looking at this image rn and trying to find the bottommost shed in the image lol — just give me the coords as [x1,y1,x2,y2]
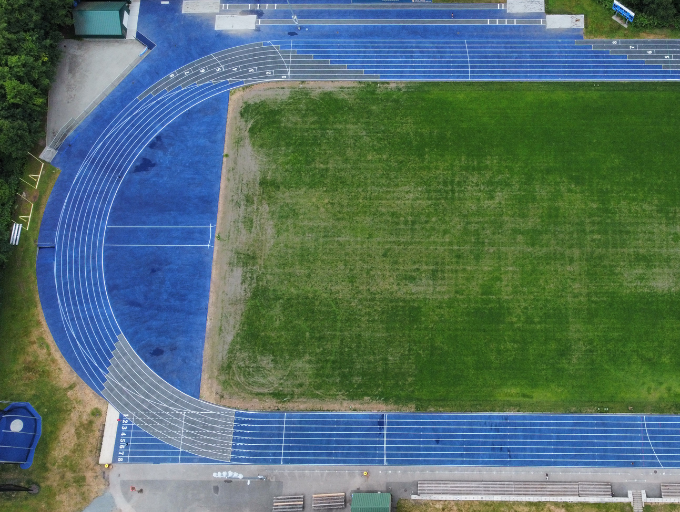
[351,491,392,512]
